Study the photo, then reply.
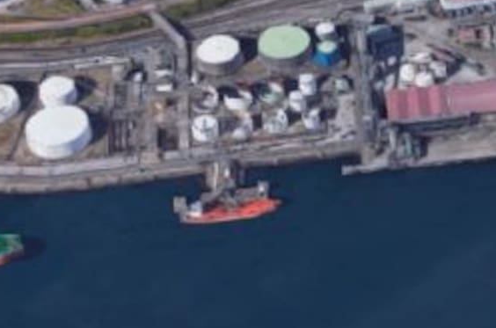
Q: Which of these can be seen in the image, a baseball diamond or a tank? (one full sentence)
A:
There is a tank in the scene.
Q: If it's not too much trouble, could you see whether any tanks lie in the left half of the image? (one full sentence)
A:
Yes, a tank is visible in the left half of the image.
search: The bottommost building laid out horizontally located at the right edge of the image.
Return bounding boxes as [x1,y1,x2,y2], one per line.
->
[399,113,473,134]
